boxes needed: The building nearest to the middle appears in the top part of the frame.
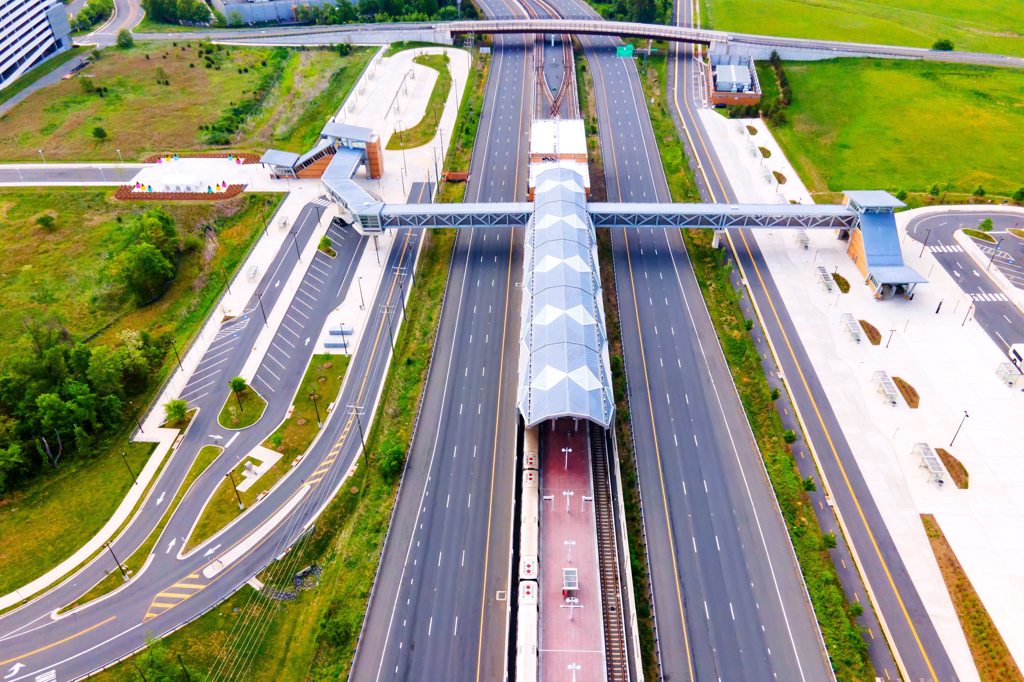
[529,116,590,180]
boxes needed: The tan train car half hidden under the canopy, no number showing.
[522,422,540,477]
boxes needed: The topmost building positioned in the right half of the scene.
[709,54,763,105]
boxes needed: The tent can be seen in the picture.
[160,176,206,191]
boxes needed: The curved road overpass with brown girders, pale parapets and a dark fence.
[448,15,720,58]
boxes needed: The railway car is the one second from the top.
[519,471,539,589]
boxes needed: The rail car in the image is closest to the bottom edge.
[515,582,538,682]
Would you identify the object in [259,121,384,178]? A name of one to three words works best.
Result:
building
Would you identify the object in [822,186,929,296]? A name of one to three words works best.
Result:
building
